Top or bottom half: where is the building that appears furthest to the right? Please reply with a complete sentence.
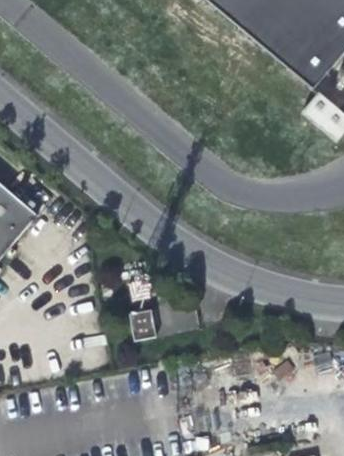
The top half of the photo is where the building that appears furthest to the right is.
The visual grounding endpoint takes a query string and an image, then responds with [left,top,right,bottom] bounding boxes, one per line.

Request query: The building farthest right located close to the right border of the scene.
[302,92,344,144]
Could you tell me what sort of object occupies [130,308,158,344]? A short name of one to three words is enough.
building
